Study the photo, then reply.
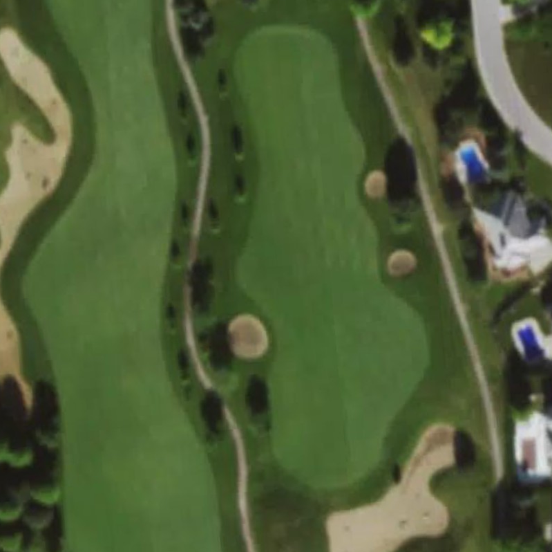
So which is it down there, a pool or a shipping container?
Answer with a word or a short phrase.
pool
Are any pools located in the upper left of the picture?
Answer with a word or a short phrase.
No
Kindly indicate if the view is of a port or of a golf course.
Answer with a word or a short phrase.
golf course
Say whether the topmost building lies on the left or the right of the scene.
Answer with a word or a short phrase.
right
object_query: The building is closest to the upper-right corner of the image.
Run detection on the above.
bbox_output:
[493,196,552,277]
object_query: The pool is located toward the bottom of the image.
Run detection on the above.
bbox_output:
[509,315,547,364]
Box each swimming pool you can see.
[509,315,547,364]
[454,138,490,187]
